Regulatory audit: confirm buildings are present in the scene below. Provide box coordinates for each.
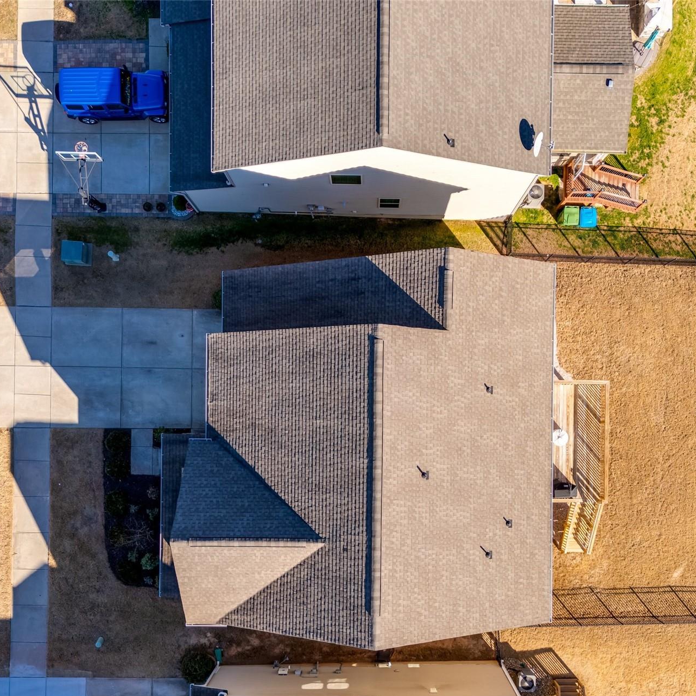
[159,0,635,223]
[187,646,522,696]
[157,248,557,653]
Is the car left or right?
left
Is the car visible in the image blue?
Yes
